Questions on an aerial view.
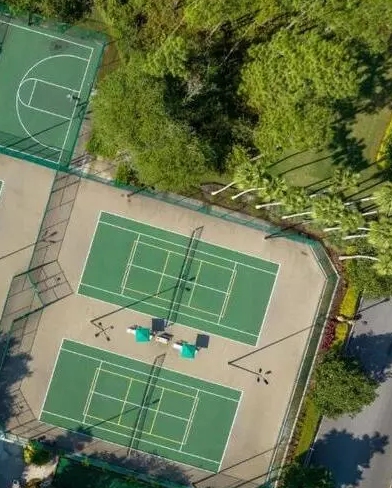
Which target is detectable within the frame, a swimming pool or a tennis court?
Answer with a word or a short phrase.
tennis court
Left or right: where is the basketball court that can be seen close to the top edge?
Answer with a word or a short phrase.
left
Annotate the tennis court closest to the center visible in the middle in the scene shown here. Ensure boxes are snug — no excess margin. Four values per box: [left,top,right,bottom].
[78,212,280,347]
